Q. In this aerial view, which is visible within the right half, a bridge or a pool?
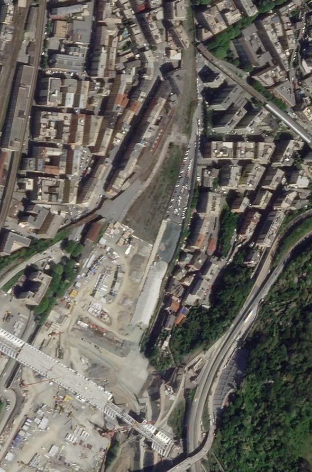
bridge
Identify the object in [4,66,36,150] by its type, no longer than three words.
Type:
train station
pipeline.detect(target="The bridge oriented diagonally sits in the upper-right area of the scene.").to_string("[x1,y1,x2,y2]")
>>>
[195,40,271,108]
